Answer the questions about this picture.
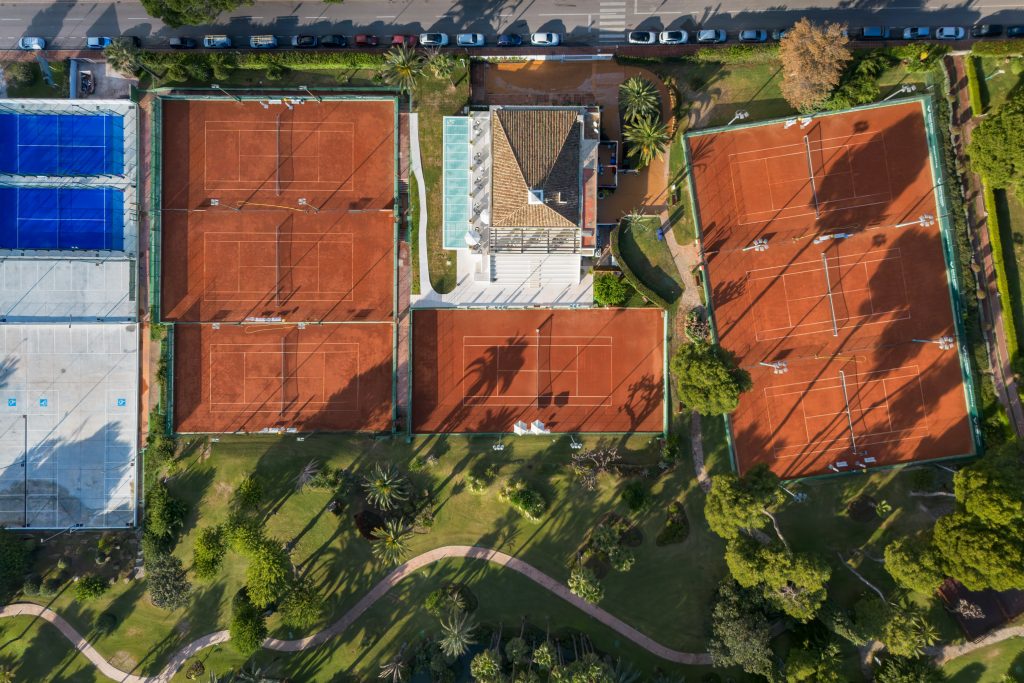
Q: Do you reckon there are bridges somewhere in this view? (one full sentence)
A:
No, I can see no bridge in this picture.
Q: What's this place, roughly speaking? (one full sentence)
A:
The area seen from above is a sports ground.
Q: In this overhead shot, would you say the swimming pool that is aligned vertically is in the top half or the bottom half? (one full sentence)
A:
The top half of the photo is where the swimming pool that is aligned vertically is.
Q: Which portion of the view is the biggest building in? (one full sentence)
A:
The biggest building is in the top part of the image.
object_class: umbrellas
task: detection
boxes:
[515,421,526,433]
[477,208,488,224]
[465,231,482,248]
[533,421,544,433]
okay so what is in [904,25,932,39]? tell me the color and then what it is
blue car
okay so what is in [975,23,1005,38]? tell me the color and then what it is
black car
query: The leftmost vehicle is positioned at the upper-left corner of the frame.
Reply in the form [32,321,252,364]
[16,35,44,50]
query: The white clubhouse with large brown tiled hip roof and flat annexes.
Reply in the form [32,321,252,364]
[488,105,599,259]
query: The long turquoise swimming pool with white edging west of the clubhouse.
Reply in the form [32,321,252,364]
[443,116,470,249]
